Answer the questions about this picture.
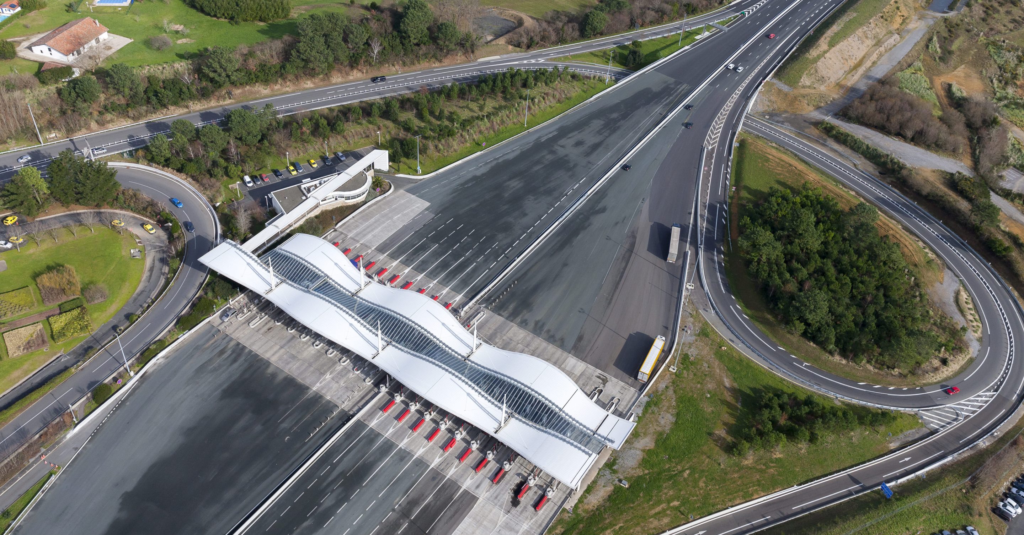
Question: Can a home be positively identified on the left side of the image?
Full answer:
Yes, a home shows up on the left side of the image.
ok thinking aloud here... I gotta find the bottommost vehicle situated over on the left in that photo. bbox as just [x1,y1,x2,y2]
[220,308,237,322]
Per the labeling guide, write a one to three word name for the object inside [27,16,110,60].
house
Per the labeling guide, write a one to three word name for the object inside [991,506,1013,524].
car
